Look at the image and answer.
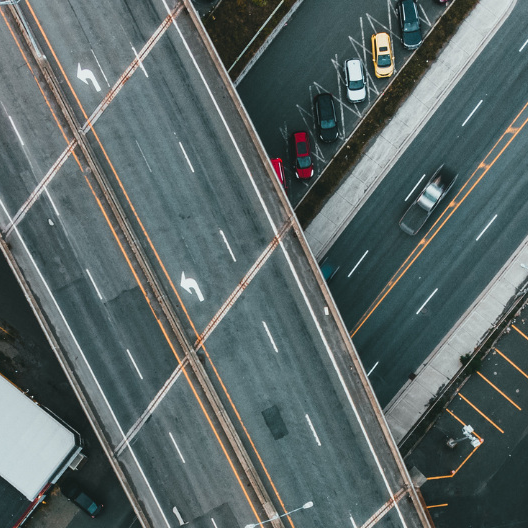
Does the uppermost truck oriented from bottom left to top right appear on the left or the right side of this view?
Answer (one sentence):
It is on the right.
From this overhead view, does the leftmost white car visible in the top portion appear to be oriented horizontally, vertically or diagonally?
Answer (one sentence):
What the image shows is the leftmost white car visible in the top portion lying vertically.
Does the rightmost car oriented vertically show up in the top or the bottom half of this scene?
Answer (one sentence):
The rightmost car oriented vertically is in the top half of the image.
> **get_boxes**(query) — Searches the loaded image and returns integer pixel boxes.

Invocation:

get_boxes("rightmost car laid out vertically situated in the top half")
[396,0,424,52]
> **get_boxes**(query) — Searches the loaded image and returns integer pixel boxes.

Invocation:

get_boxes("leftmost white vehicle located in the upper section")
[343,56,368,105]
